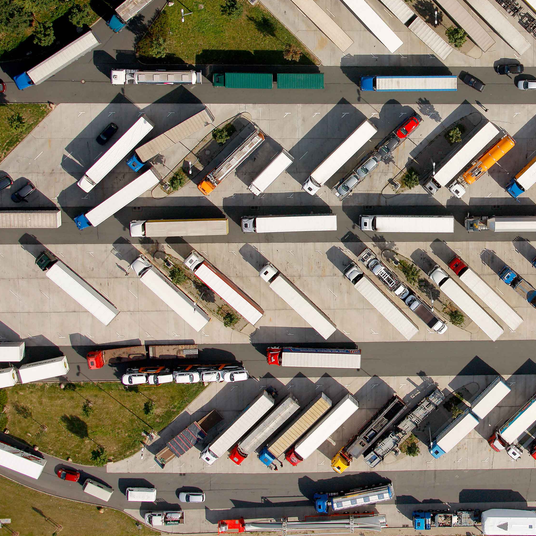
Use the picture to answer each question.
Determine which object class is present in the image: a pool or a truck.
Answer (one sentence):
The image shows a truck.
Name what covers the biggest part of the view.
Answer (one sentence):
The scene is dominated by paved ground.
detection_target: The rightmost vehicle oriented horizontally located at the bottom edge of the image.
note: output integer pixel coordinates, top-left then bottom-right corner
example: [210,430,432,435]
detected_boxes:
[412,512,482,533]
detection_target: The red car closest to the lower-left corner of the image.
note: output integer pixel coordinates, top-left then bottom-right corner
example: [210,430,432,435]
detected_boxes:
[56,467,81,482]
